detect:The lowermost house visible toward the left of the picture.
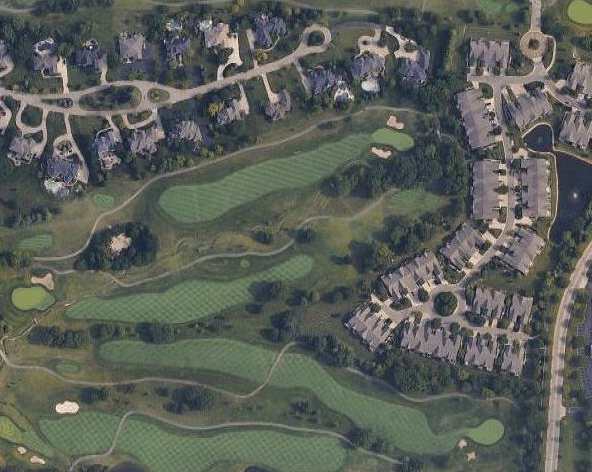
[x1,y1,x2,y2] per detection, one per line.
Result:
[42,152,82,183]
